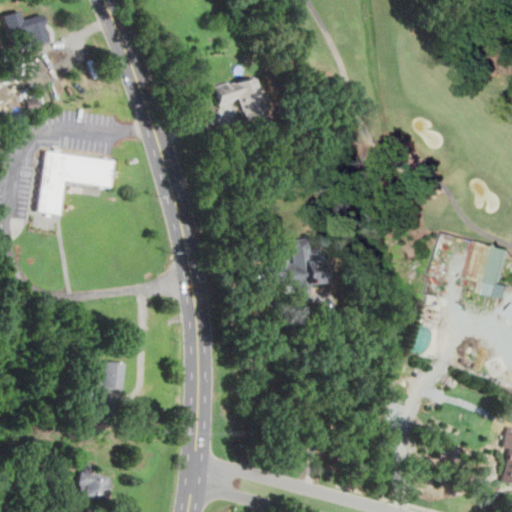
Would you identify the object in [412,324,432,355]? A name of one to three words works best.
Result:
swimming pool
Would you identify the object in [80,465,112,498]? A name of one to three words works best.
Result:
house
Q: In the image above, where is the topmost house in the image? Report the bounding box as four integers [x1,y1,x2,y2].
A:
[5,12,50,43]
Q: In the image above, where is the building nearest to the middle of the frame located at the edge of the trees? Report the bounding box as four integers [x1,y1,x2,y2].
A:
[290,240,329,286]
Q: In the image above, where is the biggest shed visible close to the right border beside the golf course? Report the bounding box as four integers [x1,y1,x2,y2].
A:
[483,244,506,284]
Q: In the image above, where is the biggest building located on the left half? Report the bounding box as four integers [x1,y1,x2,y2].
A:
[37,146,119,219]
